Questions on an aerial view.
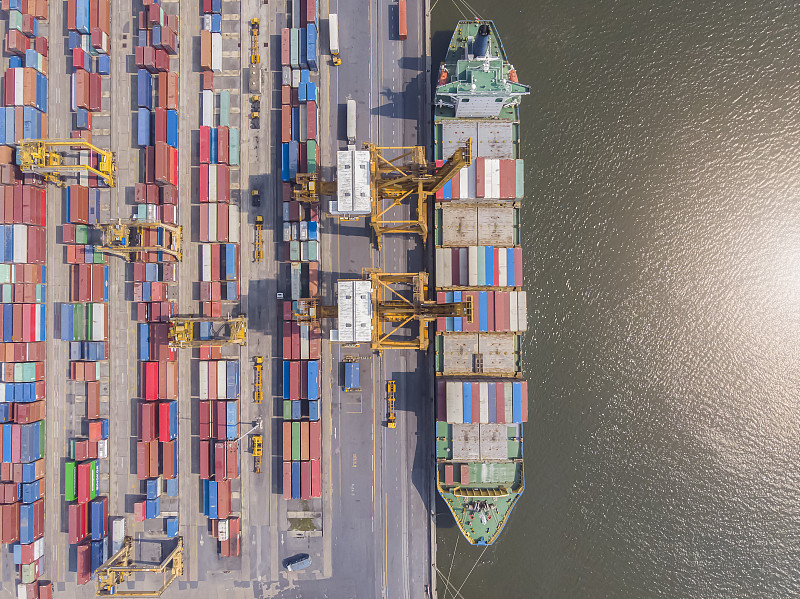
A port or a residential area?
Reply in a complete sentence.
This looks like a port.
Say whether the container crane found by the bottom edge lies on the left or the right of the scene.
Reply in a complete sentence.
You can find the container crane found by the bottom edge on the left side of the picture.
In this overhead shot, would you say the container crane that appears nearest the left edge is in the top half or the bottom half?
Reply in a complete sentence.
It is in the top half that the container crane that appears nearest the left edge appears.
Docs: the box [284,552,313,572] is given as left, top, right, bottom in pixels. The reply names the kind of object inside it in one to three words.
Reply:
vehicle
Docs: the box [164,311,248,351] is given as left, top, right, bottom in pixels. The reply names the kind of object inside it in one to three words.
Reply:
container crane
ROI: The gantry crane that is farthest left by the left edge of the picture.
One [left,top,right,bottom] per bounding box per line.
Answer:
[15,134,117,189]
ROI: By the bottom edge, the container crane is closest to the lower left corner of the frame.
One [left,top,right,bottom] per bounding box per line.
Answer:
[93,535,184,599]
